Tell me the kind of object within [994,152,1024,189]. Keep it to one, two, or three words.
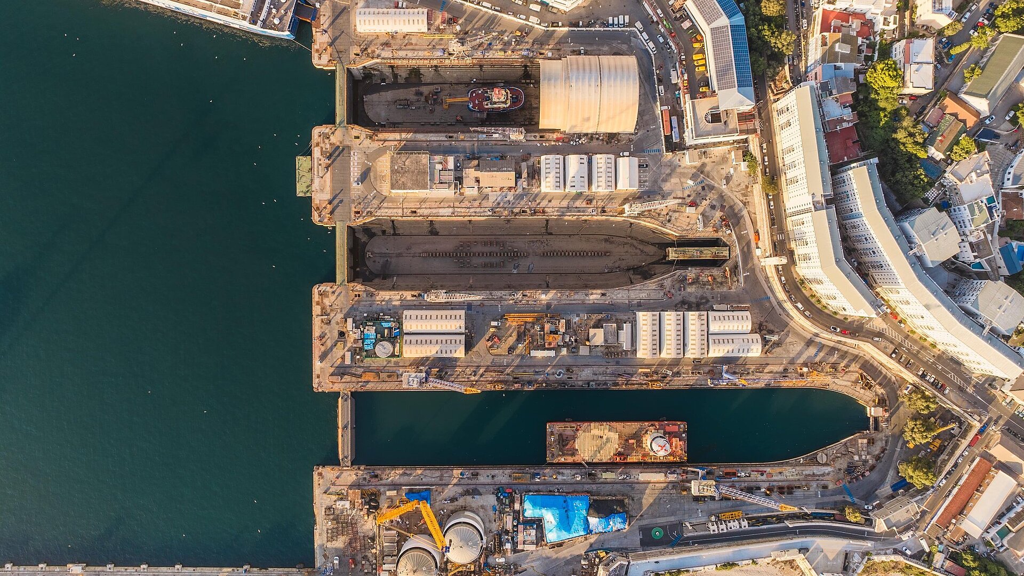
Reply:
house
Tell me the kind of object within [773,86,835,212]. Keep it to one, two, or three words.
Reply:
building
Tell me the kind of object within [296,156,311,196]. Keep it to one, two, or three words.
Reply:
pier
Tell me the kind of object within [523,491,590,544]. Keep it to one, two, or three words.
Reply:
building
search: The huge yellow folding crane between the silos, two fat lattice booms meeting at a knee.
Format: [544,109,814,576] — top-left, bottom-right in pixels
[369,496,450,556]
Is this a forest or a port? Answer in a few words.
port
